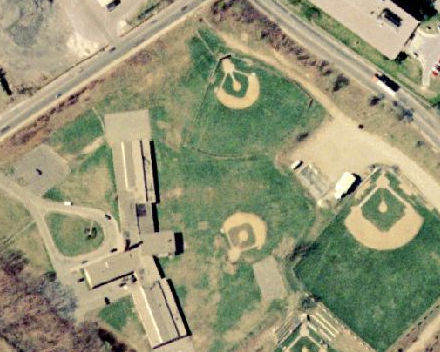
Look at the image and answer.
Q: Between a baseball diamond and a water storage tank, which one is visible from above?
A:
baseball diamond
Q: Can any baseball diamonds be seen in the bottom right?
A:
Yes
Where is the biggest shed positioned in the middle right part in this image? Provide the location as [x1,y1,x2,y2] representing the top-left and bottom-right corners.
[332,172,356,199]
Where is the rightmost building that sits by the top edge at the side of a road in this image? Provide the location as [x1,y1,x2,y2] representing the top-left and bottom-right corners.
[299,0,419,63]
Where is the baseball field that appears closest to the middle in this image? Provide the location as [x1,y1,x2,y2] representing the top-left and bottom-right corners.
[221,211,266,262]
